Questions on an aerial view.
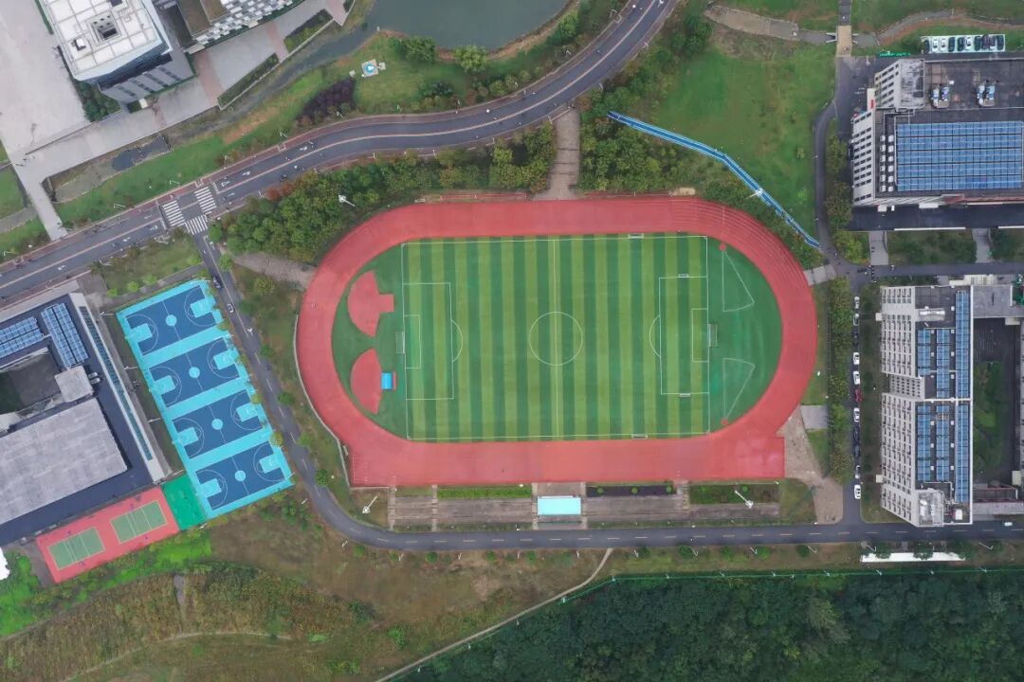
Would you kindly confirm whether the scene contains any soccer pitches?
Yes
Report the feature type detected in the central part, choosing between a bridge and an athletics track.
athletics track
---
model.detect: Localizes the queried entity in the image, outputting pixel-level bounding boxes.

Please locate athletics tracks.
[297,195,818,487]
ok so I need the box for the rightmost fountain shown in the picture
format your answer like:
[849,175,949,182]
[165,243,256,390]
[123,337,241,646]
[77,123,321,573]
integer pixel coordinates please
[361,58,378,77]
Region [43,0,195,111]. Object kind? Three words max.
building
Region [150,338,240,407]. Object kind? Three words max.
basketball court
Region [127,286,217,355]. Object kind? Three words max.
basketball court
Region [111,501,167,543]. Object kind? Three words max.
sports court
